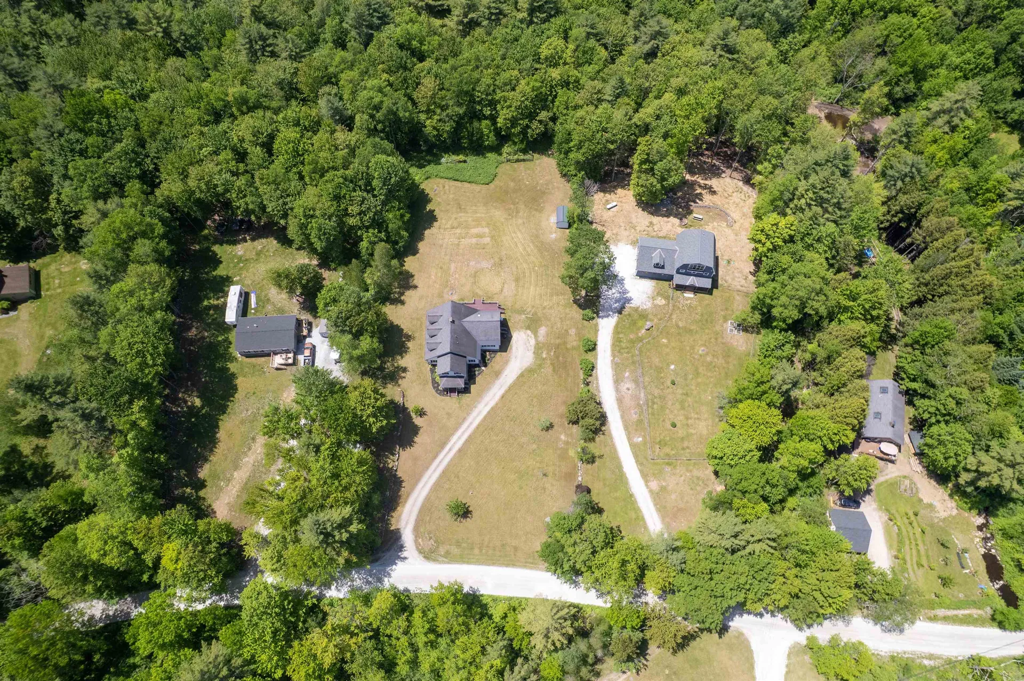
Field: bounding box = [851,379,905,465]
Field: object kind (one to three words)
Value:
building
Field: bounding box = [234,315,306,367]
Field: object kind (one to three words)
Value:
house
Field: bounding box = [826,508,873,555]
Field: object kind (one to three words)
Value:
building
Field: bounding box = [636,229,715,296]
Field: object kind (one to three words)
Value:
house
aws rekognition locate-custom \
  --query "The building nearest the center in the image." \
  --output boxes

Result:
[424,297,508,396]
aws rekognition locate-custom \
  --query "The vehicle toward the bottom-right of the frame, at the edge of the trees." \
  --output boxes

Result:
[836,497,863,509]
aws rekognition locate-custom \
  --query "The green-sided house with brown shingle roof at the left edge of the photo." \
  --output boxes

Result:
[0,262,39,303]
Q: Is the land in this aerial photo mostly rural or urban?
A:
rural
